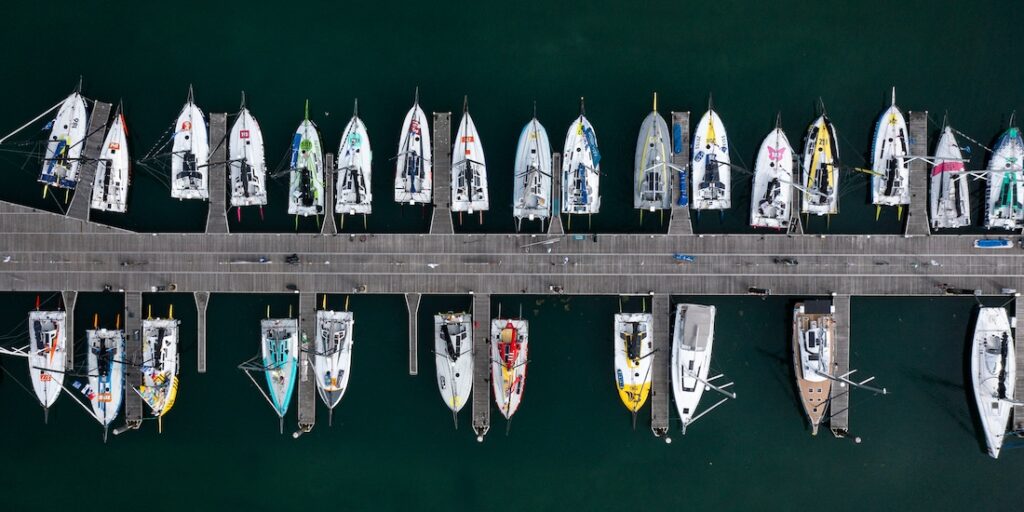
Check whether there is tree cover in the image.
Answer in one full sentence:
No, the picture contains no tree cover.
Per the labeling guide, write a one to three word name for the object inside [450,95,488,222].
boat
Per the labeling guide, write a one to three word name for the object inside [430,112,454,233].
pier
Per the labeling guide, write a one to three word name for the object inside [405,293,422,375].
pier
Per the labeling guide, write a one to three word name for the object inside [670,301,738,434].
boat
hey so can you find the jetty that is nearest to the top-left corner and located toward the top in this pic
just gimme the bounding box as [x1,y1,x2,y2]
[66,100,114,220]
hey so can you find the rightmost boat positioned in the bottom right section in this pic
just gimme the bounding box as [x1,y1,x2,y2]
[968,296,1024,459]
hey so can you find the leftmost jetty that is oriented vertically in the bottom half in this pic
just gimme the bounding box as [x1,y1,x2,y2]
[61,291,80,370]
